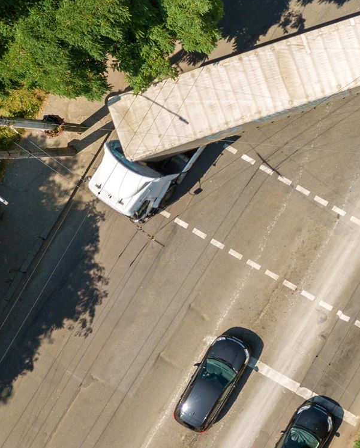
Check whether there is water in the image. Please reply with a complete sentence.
No, there's no water in this view.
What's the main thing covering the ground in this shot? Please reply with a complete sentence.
The bulk of the photo consists of paved ground.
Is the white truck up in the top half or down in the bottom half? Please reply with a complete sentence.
The top half of the photo is where the white truck is.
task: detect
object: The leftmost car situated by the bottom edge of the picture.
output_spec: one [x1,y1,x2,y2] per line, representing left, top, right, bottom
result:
[176,333,253,432]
